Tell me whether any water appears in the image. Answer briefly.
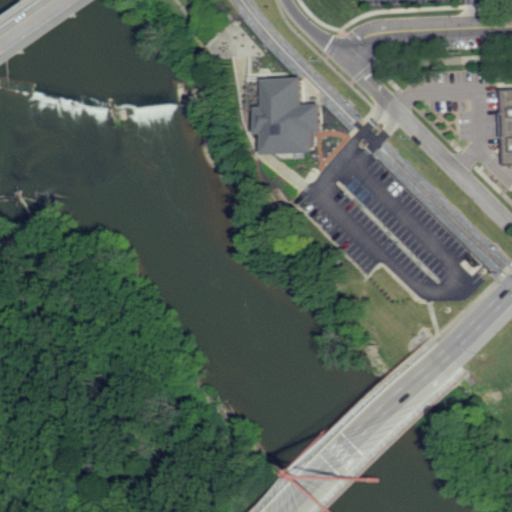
Yes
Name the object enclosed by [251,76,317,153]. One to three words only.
building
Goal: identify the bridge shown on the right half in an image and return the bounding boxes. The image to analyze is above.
[249,292,512,512]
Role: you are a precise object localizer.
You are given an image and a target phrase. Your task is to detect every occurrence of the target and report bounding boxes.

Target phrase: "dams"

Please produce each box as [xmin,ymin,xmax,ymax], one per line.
[0,78,189,134]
